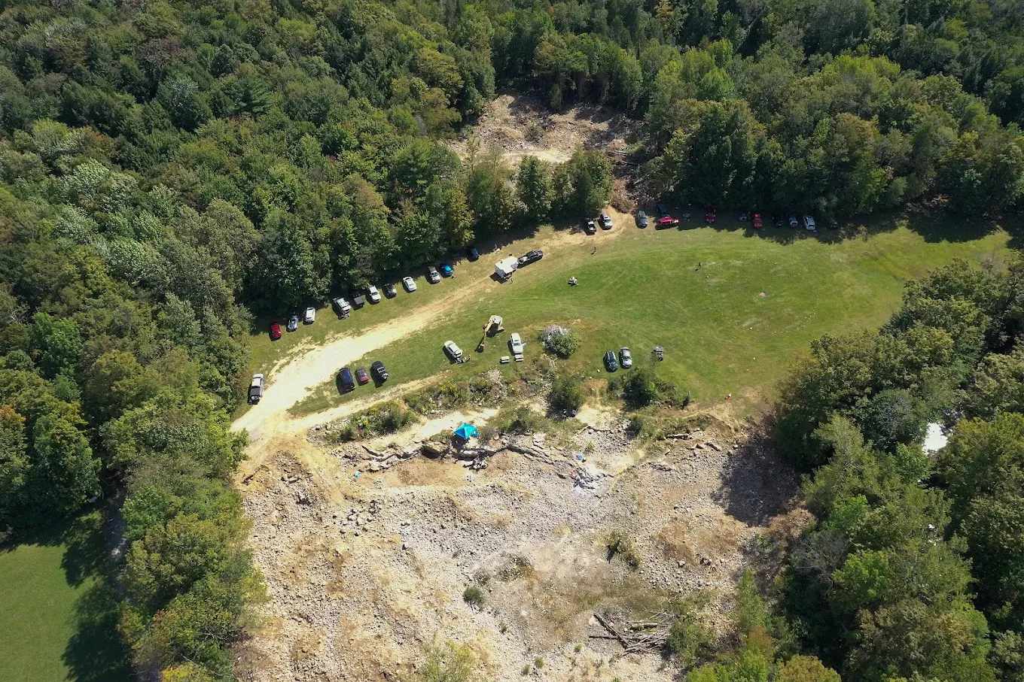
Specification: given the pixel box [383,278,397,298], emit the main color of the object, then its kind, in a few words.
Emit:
black vehicle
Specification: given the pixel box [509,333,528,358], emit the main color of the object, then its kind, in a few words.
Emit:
white vehicle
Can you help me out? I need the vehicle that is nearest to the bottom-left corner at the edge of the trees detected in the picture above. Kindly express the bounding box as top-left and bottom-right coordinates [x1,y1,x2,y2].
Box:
[248,374,264,403]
